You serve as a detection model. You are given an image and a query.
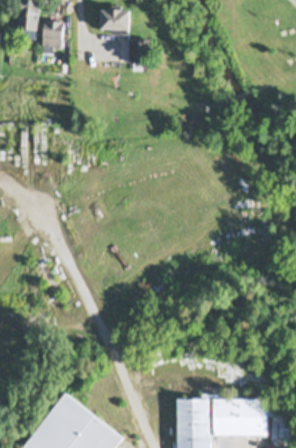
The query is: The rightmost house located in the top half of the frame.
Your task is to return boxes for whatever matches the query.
[100,6,130,36]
